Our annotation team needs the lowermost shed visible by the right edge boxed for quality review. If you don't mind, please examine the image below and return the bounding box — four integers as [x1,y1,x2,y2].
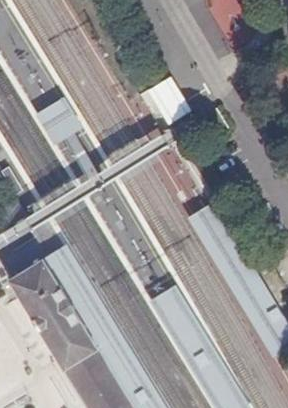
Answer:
[188,206,288,356]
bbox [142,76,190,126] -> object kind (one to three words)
shed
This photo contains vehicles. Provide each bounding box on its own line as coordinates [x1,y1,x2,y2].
[216,156,238,173]
[273,204,284,223]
